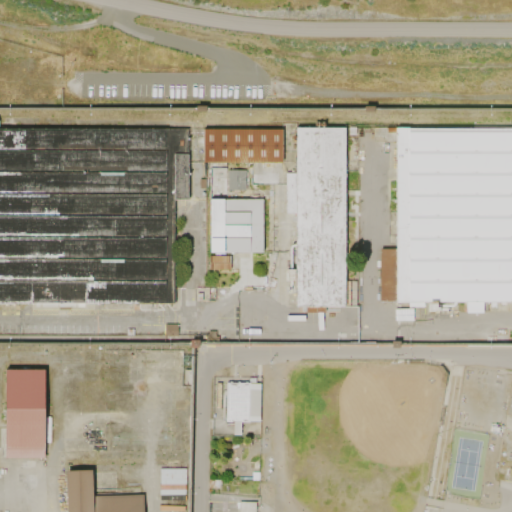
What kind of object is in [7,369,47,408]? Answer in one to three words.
shed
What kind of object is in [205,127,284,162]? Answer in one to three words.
building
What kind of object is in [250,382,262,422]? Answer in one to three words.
building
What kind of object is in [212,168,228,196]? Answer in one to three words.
house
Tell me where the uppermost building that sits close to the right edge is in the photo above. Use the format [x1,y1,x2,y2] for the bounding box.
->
[396,127,512,303]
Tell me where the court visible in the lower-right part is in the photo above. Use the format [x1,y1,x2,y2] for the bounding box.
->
[448,428,489,498]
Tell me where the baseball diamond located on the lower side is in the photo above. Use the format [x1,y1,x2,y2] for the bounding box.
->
[344,364,437,461]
